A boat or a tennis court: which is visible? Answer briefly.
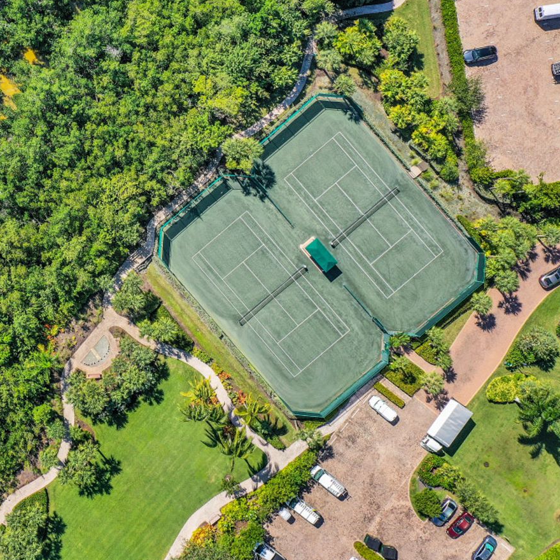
tennis court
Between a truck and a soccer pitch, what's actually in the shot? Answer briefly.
truck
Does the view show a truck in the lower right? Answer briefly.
Yes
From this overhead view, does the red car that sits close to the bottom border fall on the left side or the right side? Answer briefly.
right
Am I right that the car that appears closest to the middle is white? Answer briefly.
Yes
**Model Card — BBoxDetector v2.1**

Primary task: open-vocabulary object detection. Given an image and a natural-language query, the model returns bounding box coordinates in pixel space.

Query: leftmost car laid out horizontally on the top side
[463,46,498,62]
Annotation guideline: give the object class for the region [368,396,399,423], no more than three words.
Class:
car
